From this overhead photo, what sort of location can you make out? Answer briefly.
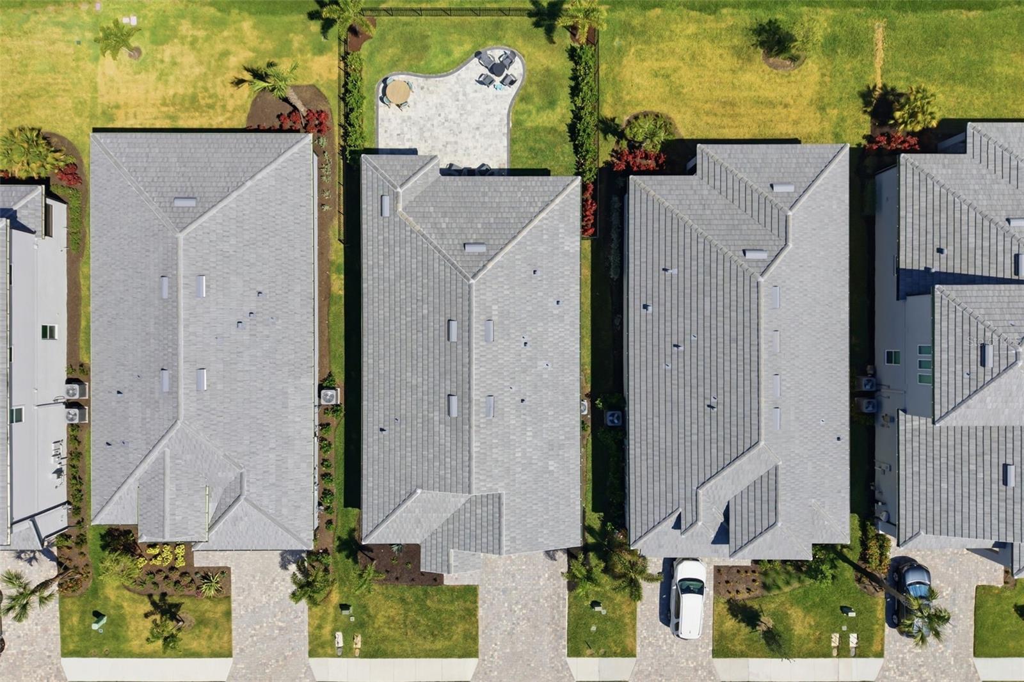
residential area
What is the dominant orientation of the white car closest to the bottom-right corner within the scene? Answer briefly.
from top to bottom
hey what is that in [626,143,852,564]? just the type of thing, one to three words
house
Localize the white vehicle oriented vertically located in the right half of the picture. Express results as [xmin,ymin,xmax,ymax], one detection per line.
[667,556,709,640]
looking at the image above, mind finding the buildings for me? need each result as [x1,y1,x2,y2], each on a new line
[88,131,319,552]
[0,183,69,549]
[626,143,852,564]
[871,121,1024,581]
[359,153,583,576]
